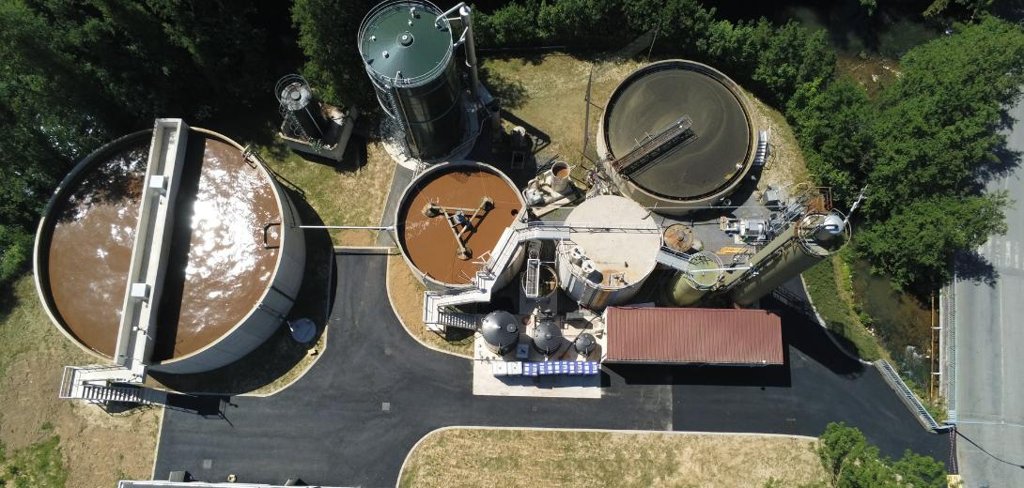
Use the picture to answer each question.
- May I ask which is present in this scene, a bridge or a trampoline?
bridge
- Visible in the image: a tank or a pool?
tank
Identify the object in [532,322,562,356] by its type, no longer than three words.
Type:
storage tank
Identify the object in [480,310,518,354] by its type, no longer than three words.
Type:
storage tank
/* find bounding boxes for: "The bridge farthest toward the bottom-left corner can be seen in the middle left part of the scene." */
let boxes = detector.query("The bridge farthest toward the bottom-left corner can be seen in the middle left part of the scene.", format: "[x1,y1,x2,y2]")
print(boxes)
[114,118,196,383]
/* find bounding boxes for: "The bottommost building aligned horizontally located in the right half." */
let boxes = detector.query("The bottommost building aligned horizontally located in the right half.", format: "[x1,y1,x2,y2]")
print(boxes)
[600,306,783,367]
